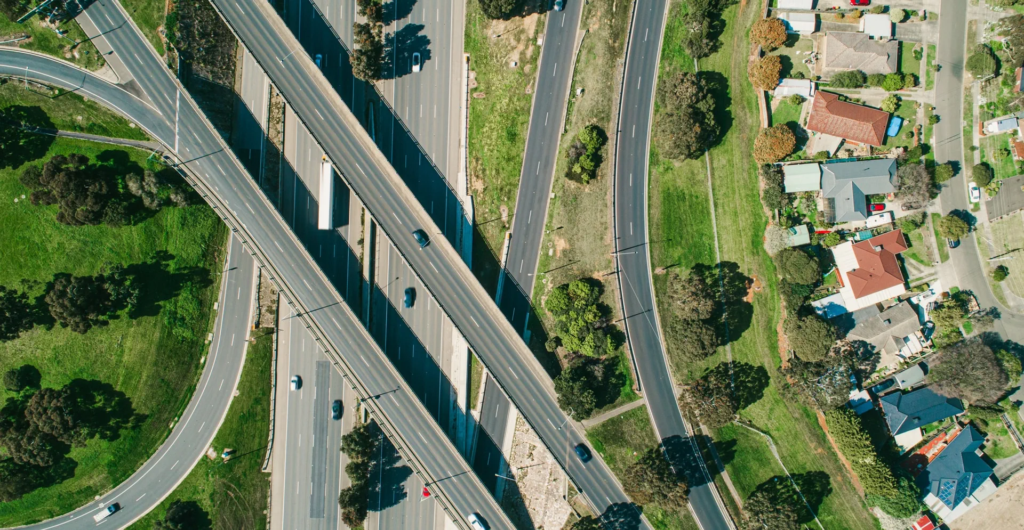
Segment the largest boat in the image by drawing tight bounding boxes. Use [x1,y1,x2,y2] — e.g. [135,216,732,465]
[914,295,941,312]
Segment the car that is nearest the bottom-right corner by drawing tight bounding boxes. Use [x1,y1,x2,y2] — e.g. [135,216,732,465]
[875,380,895,394]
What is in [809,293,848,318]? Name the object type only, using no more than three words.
building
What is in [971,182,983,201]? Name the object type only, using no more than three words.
vehicle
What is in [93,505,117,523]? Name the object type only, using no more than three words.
car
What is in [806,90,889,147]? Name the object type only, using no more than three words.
house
